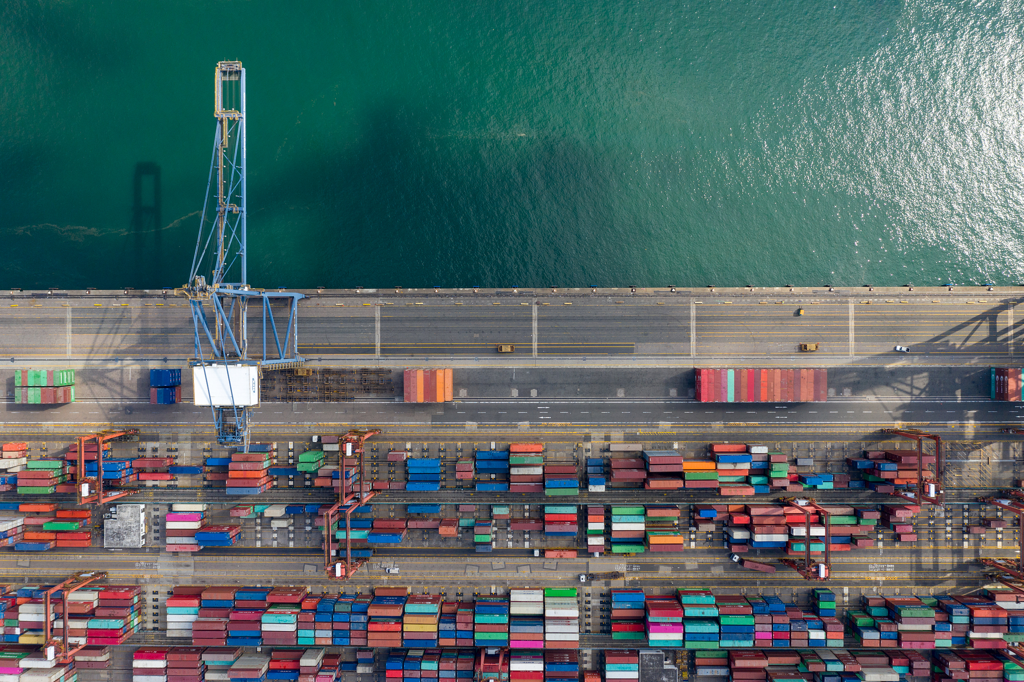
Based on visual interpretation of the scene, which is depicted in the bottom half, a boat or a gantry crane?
gantry crane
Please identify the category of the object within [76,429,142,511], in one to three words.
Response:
container crane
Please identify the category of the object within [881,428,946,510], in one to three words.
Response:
container crane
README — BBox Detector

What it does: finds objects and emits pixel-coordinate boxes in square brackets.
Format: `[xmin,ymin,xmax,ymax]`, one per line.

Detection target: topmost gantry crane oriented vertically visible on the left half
[171,57,314,453]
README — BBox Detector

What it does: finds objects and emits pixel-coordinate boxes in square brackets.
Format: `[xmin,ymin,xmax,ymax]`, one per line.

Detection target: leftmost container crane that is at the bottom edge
[40,572,108,666]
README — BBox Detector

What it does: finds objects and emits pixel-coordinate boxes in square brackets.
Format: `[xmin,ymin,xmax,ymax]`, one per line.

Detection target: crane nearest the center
[338,429,385,512]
